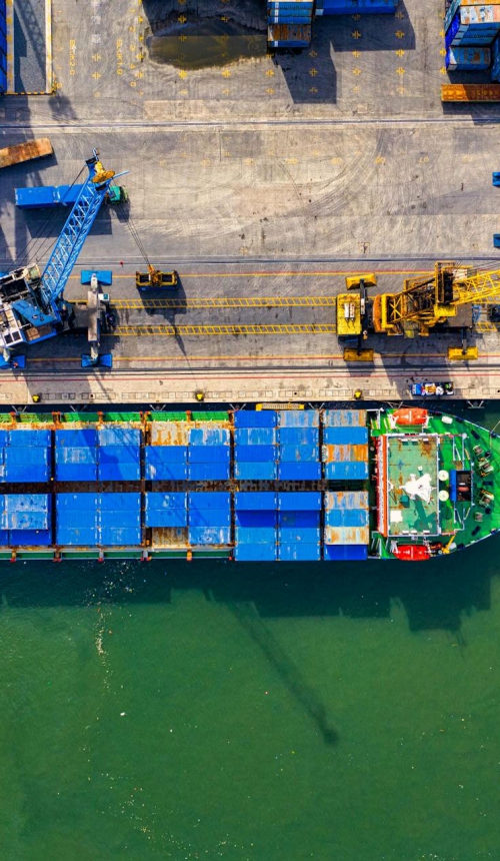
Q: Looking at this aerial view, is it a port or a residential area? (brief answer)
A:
port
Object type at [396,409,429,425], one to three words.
boat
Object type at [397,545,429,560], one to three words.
boat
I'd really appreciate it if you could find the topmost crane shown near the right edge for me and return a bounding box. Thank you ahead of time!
[336,262,500,362]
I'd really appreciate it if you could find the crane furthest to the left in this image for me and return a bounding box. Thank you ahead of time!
[0,148,154,369]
